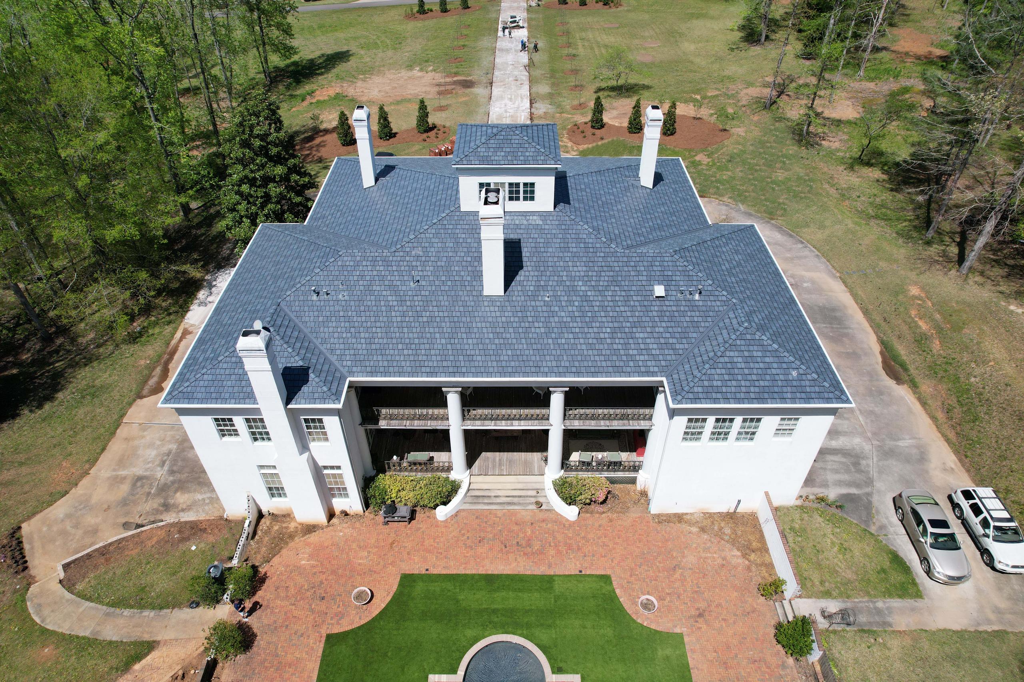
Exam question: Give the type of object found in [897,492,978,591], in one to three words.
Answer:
car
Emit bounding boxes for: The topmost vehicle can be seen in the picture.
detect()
[498,10,524,28]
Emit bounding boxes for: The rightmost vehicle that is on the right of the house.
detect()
[955,486,1024,585]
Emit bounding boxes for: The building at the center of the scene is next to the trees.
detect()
[159,101,854,523]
